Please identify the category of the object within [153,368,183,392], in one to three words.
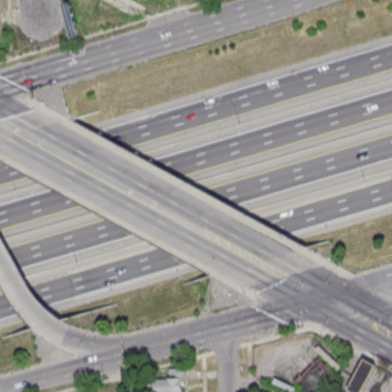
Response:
house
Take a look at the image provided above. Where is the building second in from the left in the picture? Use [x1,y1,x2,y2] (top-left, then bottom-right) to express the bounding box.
[295,356,330,392]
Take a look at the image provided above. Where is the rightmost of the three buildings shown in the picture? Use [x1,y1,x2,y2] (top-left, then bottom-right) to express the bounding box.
[345,356,374,392]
